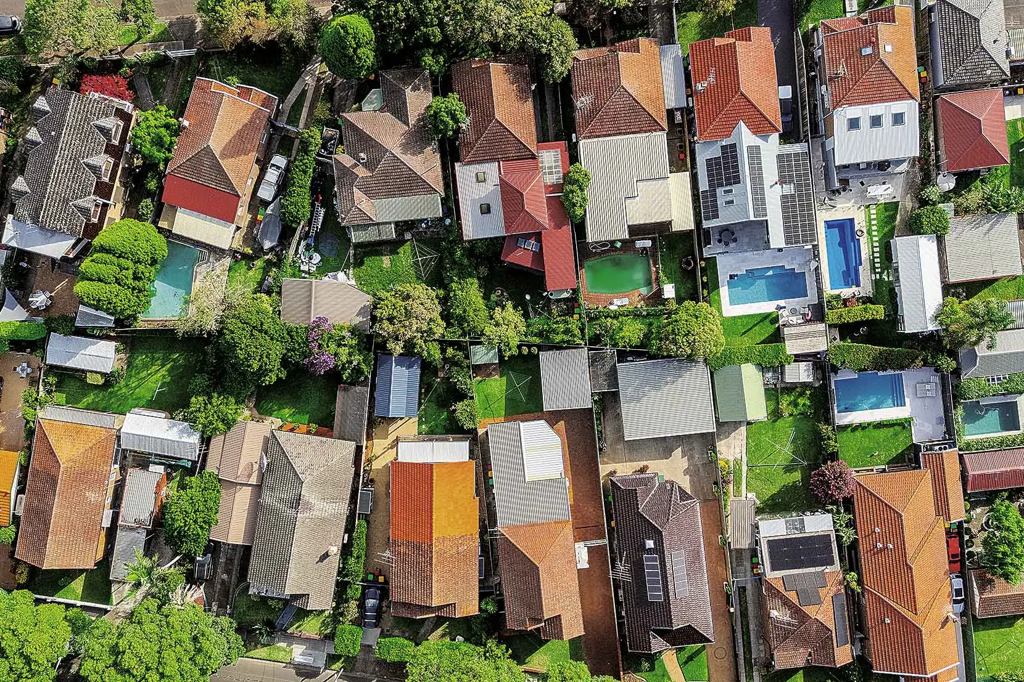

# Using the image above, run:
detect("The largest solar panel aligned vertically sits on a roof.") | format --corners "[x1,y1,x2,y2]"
[834,595,849,646]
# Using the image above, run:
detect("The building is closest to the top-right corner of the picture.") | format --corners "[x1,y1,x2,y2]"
[923,0,1024,90]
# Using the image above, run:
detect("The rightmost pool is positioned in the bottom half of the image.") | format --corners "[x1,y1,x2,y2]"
[955,394,1024,434]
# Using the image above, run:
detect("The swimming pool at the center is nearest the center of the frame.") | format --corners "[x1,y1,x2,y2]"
[575,242,663,306]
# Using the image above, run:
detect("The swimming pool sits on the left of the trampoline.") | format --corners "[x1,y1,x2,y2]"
[133,233,216,324]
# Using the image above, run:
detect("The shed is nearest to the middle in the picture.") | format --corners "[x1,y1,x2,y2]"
[470,344,499,366]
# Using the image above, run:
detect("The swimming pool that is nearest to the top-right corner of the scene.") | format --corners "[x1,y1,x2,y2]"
[818,211,869,295]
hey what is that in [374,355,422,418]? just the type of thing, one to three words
shed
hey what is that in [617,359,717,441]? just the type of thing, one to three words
building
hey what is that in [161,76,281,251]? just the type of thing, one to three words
house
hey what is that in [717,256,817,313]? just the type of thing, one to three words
swimming pool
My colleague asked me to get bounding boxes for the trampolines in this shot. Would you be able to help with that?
[317,234,338,255]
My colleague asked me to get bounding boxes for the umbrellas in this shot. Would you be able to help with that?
[812,254,824,270]
[936,172,955,191]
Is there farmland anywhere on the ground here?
No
